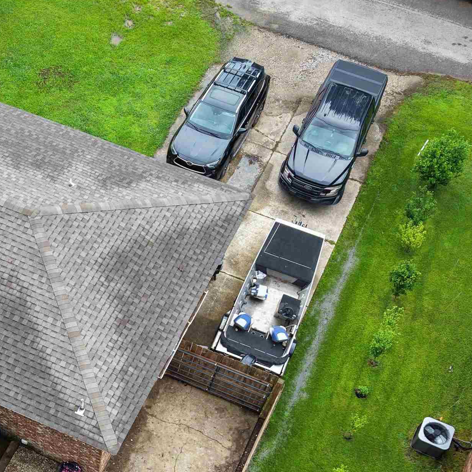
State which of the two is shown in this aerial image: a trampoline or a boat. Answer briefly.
boat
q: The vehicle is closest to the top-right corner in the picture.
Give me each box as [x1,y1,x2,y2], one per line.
[277,56,393,209]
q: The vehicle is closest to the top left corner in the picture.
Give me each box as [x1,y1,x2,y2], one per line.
[168,55,272,182]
